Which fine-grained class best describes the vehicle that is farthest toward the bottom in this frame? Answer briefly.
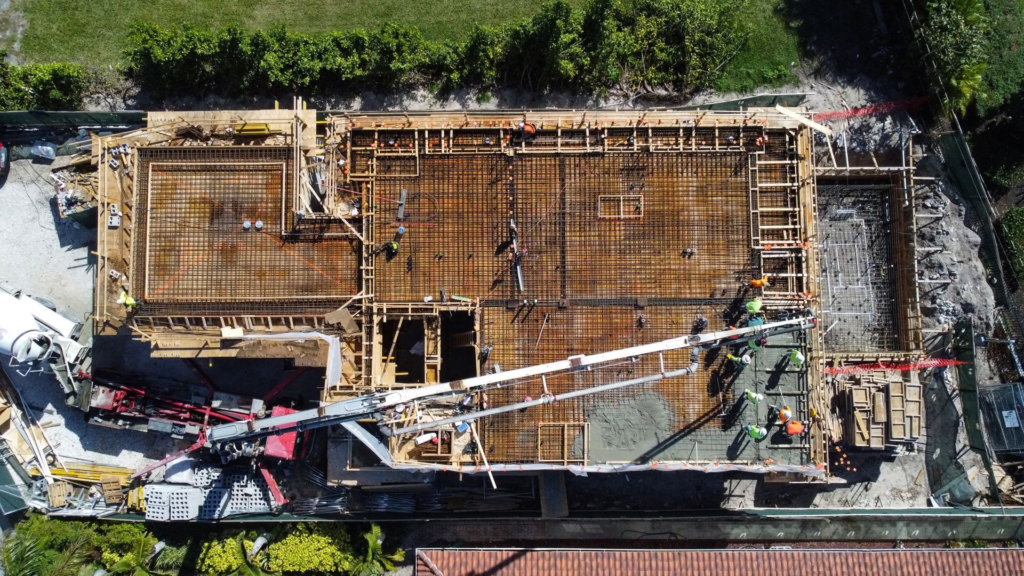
truck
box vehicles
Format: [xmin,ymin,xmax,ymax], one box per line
[65,358,322,506]
[0,142,12,181]
[0,277,95,398]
